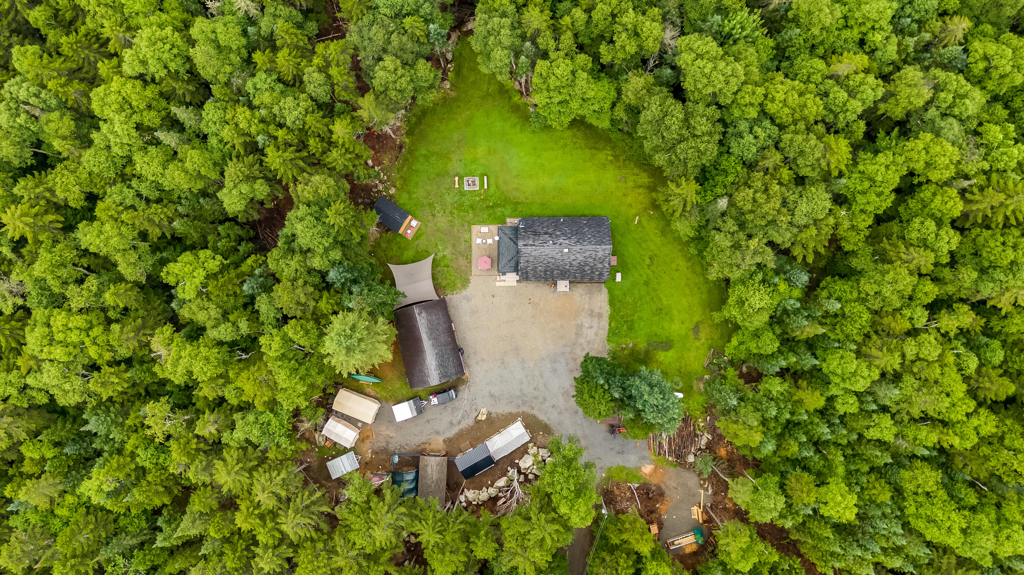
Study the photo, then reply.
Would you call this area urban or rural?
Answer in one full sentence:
From above, the setting appears rural.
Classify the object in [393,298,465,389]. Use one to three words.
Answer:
building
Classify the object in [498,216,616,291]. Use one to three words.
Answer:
house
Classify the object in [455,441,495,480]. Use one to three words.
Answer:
shed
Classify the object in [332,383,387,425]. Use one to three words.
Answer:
tent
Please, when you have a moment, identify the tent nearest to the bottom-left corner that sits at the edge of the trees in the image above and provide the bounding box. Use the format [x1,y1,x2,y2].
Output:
[322,417,360,449]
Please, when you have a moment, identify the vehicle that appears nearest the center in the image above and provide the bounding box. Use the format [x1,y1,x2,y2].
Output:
[428,388,457,406]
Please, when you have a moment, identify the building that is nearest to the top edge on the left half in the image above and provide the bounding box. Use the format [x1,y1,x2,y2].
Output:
[373,196,422,240]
